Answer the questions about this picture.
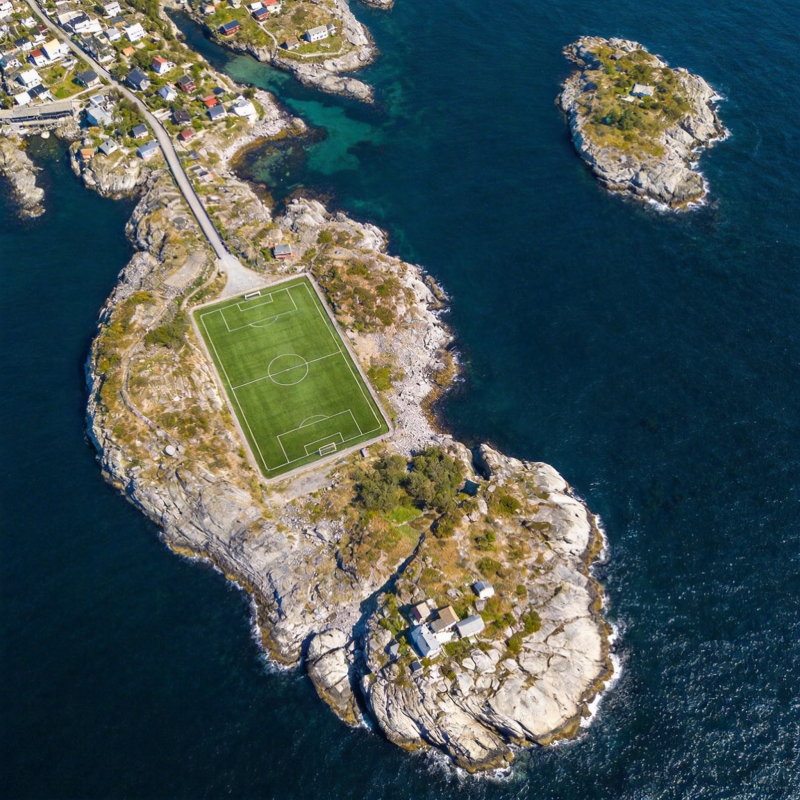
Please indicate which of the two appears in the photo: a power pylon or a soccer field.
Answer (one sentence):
It is a soccer field that can be seen here.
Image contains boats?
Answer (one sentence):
No, this view has no boat in it.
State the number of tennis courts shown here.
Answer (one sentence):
No tennis courts are visible.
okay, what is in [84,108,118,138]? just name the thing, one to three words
building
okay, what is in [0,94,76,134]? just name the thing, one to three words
building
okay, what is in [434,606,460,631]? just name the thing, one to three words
house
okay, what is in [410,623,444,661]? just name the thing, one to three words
house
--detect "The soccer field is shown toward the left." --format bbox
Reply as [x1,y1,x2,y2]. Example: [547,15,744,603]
[191,273,395,484]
